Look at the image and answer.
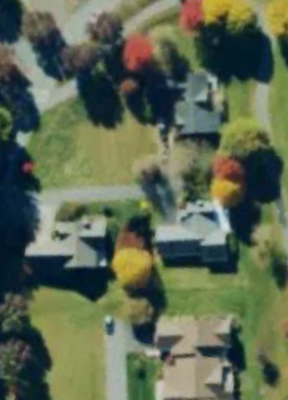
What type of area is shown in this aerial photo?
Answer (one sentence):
What you see here is a residential area.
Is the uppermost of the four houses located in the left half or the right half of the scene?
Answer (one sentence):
It is on the right.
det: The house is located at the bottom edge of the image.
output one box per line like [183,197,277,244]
[154,313,233,400]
